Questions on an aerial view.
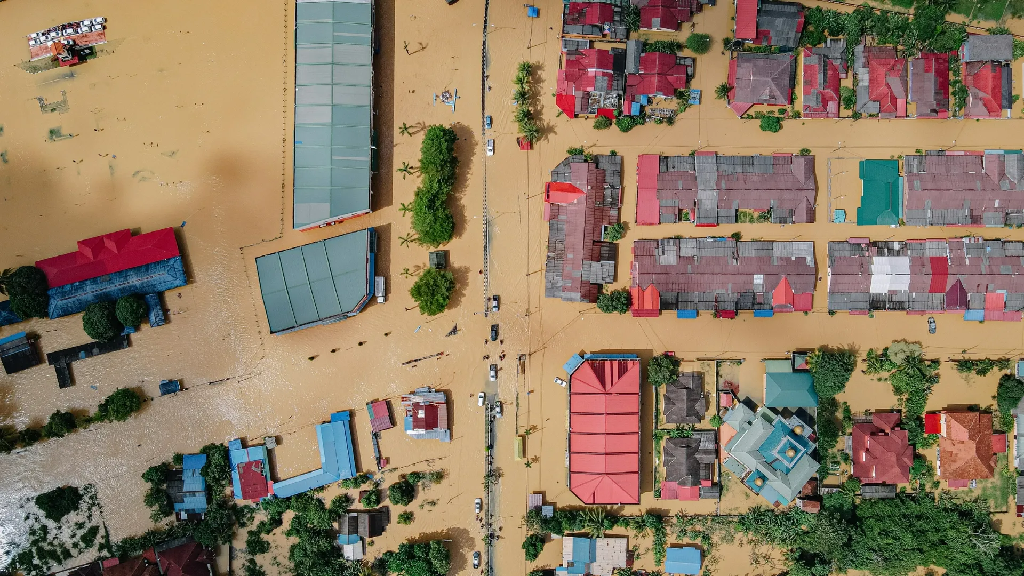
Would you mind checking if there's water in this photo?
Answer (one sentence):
Yes, some water is visible.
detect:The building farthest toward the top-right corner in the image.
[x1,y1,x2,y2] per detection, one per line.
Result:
[958,35,1012,118]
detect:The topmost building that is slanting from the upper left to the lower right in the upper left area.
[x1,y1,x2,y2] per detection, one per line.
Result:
[39,38,80,67]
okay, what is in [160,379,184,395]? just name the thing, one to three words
building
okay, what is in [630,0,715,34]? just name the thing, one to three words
house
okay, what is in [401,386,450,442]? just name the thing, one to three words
house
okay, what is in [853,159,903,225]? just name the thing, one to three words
building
